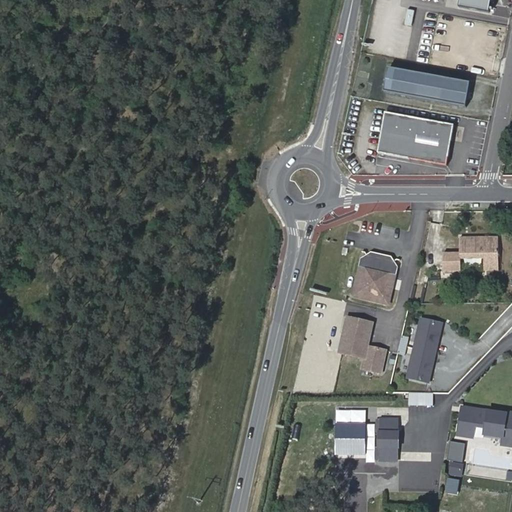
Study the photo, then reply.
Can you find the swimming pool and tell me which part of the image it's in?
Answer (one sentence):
The swimming pool sits in the bottom right section of the image.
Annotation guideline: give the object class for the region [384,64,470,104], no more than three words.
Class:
building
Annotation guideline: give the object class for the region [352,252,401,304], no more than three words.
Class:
building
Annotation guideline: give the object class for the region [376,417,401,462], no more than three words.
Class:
house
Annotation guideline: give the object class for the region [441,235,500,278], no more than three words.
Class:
house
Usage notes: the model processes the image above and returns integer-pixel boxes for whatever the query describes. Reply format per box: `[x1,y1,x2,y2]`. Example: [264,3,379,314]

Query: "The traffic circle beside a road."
[258,118,361,247]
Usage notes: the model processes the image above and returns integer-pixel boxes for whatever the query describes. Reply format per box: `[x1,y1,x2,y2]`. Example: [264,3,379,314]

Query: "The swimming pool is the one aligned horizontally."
[473,448,512,470]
